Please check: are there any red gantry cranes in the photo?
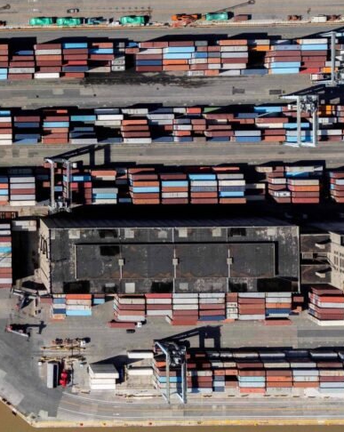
No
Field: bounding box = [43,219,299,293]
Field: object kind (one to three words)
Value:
building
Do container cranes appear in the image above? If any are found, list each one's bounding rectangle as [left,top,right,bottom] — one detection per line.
[40,156,72,210]
[274,95,319,146]
[306,33,344,86]
[149,341,188,405]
